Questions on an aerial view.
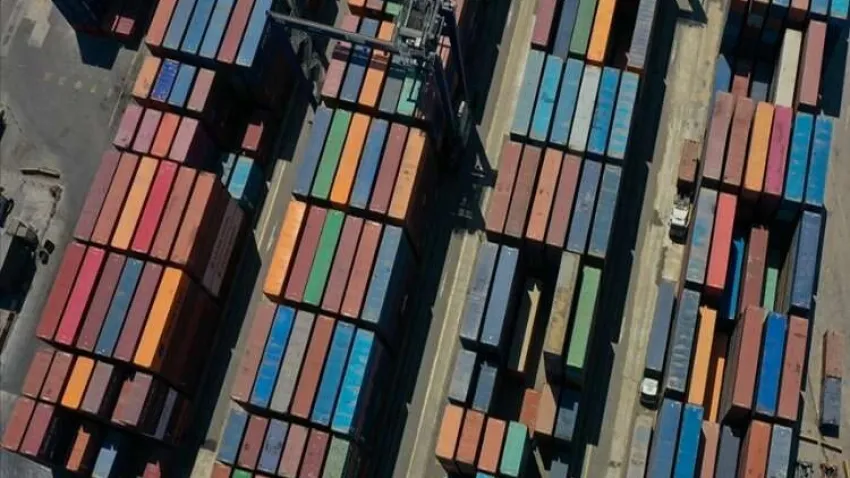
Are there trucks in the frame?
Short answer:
Yes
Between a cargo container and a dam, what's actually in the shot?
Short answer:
cargo container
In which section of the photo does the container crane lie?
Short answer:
top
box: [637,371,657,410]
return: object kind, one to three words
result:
vehicle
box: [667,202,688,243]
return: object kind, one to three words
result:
truck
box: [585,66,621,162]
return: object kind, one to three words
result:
shipping container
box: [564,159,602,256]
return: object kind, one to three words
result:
shipping container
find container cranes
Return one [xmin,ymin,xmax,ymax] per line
[264,0,477,143]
